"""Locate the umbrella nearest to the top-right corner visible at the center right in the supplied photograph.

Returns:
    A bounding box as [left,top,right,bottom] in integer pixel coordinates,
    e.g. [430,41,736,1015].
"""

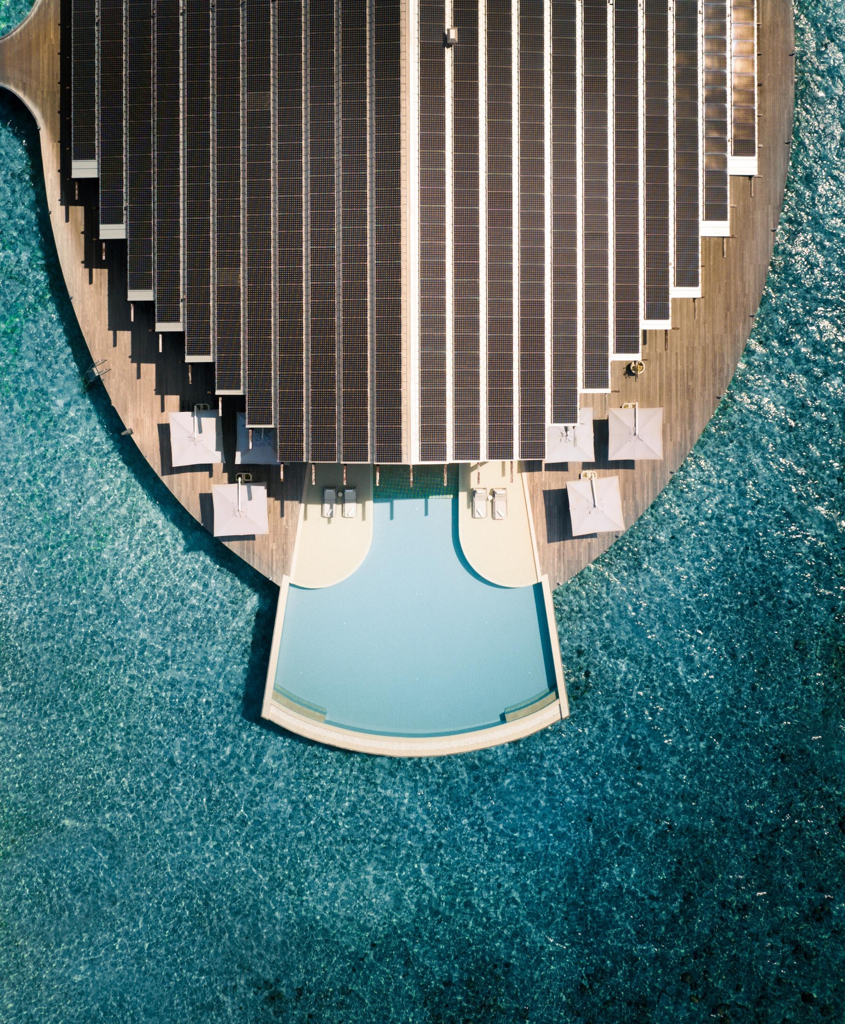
[608,400,662,461]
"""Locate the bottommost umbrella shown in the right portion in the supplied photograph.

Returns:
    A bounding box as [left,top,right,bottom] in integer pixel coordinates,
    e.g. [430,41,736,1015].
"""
[566,470,625,536]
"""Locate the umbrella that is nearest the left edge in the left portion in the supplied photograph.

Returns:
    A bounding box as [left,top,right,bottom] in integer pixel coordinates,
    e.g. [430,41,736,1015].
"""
[169,404,226,466]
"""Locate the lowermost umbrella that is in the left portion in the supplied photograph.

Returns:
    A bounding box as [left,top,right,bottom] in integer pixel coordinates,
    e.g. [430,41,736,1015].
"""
[214,474,268,536]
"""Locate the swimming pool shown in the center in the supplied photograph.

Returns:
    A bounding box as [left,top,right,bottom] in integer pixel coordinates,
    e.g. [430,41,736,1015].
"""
[260,461,571,756]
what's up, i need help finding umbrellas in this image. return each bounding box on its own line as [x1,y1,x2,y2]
[608,400,662,461]
[544,407,596,463]
[235,411,289,466]
[169,404,226,466]
[214,474,268,536]
[566,470,625,536]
